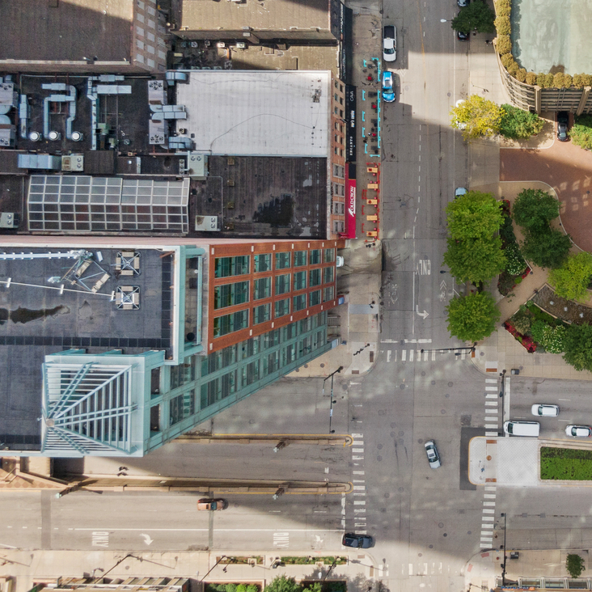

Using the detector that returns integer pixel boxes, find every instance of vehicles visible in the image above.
[556,114,569,142]
[384,25,397,63]
[567,424,592,437]
[344,532,375,549]
[503,420,540,435]
[531,403,559,417]
[458,0,467,9]
[425,438,439,467]
[383,73,395,102]
[199,496,228,510]
[458,24,469,42]
[334,255,355,266]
